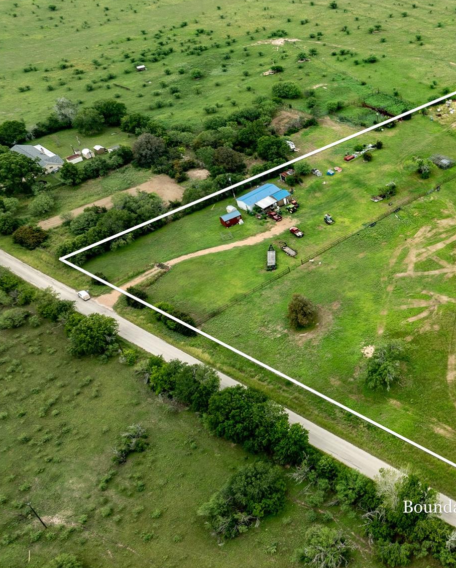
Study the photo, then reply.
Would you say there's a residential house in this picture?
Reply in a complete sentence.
Yes, the photo shows a residential house.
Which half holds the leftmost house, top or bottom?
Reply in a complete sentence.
You can find the leftmost house in the top half.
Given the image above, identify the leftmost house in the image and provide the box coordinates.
[9,144,58,169]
